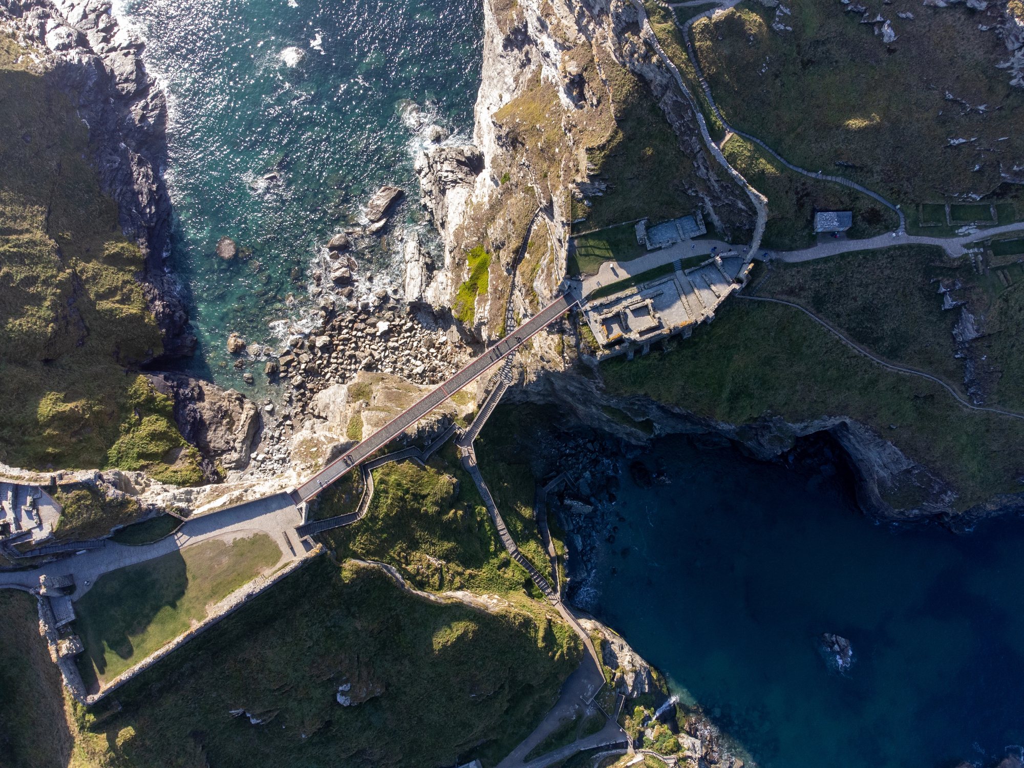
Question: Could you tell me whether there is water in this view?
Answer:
Yes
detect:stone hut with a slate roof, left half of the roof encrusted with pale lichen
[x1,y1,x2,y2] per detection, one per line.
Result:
[813,211,853,231]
